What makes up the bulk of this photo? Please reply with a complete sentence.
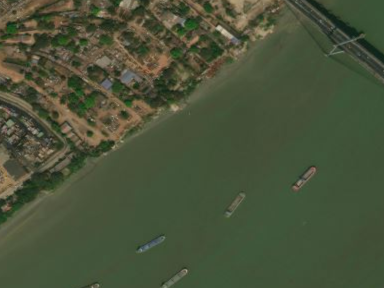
The largest share of the image is taken up by water.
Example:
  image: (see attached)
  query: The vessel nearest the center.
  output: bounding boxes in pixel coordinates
[224,193,244,218]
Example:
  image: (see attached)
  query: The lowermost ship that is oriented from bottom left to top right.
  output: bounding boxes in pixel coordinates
[160,268,187,288]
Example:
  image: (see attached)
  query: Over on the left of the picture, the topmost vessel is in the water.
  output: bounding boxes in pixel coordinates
[137,236,165,253]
